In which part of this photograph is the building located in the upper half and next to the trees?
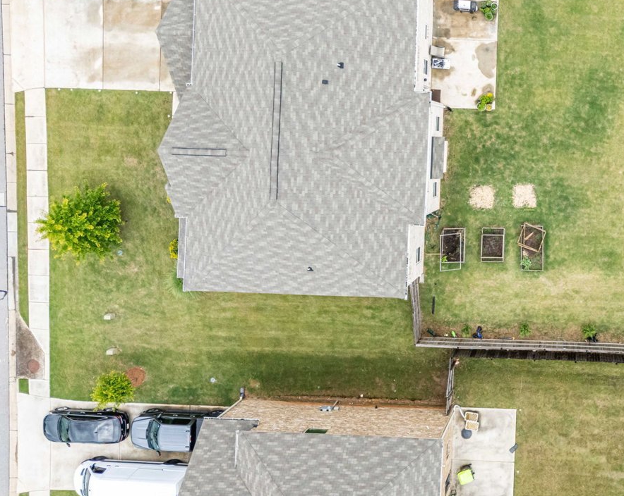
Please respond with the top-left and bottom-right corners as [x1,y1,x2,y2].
[158,0,455,300]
